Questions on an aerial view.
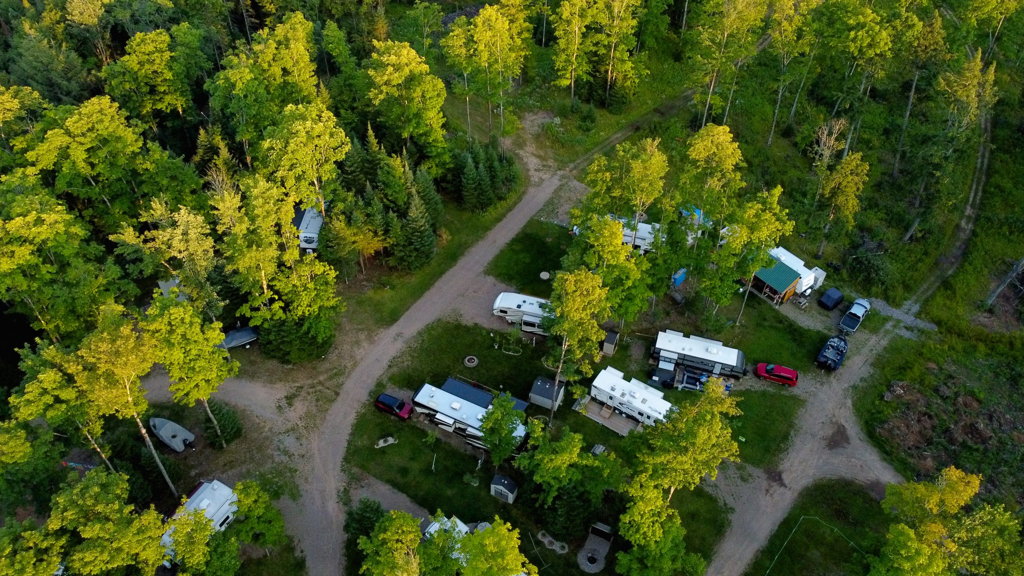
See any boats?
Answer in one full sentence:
Yes, the photo shows a boat.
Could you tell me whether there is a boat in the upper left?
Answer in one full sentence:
No, there's no boat to be seen in the upper left.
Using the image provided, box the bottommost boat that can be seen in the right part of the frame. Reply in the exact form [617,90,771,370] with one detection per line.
[813,334,848,372]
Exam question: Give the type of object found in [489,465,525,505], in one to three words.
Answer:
shed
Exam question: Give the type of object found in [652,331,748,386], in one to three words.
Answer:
trailer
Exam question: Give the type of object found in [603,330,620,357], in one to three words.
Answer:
shed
